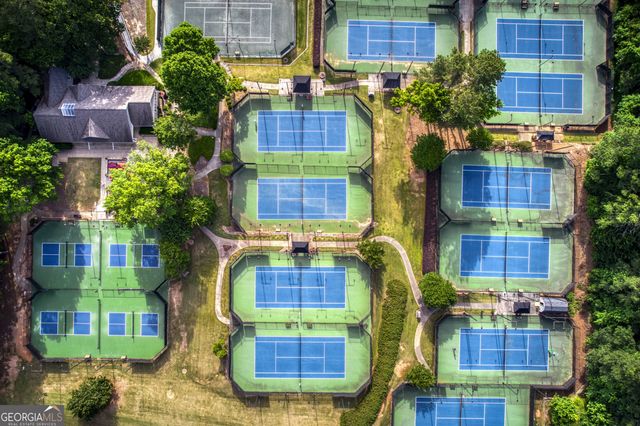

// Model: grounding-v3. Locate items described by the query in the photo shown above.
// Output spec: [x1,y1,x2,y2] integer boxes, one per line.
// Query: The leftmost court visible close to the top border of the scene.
[161,0,296,57]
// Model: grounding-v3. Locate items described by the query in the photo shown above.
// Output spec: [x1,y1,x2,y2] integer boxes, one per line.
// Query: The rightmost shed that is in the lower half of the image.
[534,297,571,312]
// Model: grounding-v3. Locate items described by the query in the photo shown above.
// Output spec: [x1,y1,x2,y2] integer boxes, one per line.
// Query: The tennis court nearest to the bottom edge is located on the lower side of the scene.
[393,385,531,426]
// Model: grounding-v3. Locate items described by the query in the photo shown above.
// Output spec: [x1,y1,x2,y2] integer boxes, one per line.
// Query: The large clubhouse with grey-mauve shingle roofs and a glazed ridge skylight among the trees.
[33,66,159,152]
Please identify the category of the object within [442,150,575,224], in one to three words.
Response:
tennis court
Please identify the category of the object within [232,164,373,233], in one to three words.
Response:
tennis court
